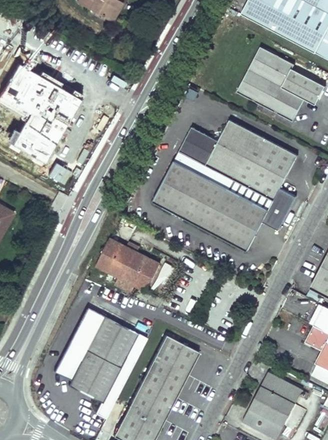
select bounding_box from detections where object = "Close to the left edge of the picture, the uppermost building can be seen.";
[0,64,83,165]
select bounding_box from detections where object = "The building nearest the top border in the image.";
[76,0,128,21]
